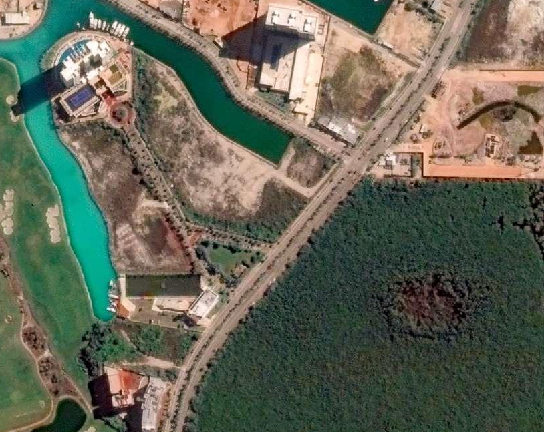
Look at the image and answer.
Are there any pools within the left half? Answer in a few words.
Yes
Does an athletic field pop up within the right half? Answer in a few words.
No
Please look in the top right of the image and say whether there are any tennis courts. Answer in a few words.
No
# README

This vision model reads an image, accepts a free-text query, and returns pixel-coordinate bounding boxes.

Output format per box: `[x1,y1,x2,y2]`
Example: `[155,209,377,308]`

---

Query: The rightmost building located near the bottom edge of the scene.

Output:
[142,379,169,431]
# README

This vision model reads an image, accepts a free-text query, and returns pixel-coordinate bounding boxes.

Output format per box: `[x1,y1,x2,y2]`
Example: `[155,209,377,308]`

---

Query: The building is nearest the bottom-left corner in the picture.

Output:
[105,367,148,409]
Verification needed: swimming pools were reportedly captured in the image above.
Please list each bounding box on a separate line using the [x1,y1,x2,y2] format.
[270,47,281,70]
[53,36,105,68]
